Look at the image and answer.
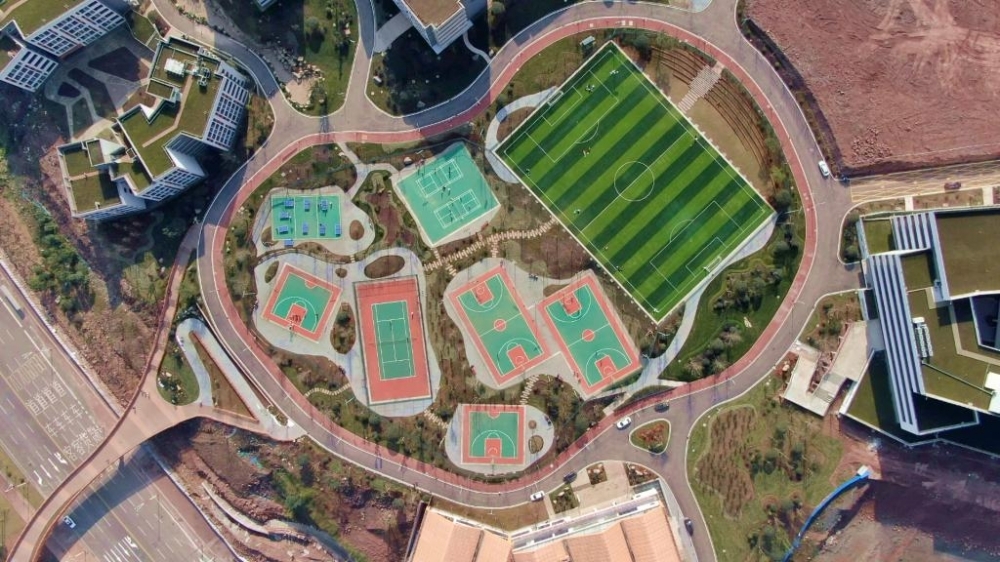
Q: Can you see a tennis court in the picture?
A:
Yes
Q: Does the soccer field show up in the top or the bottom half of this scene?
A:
top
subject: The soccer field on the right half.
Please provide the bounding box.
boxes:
[494,40,775,324]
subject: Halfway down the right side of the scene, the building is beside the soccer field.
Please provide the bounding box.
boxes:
[835,208,1000,457]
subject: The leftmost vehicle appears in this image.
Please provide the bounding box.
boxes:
[0,286,23,312]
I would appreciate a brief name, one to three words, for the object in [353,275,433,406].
tennis court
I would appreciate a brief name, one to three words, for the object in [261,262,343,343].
basketball court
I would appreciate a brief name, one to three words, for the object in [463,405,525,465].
basketball court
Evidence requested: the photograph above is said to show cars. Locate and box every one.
[529,492,544,501]
[654,403,669,411]
[685,519,693,534]
[819,160,830,175]
[60,516,74,528]
[563,473,578,484]
[616,419,631,429]
[945,183,960,190]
